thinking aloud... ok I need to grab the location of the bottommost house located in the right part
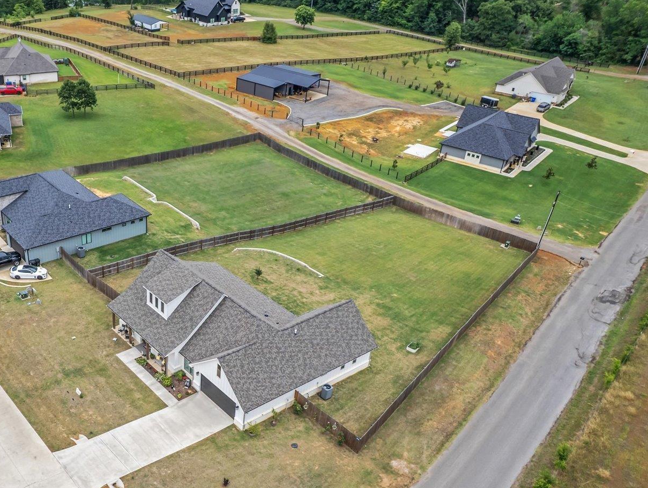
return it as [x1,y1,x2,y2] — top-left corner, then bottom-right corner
[438,104,545,175]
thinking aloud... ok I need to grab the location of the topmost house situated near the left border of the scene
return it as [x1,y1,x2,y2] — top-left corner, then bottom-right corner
[0,36,60,85]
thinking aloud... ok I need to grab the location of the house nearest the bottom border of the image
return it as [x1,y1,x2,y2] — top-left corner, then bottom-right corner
[104,248,379,430]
